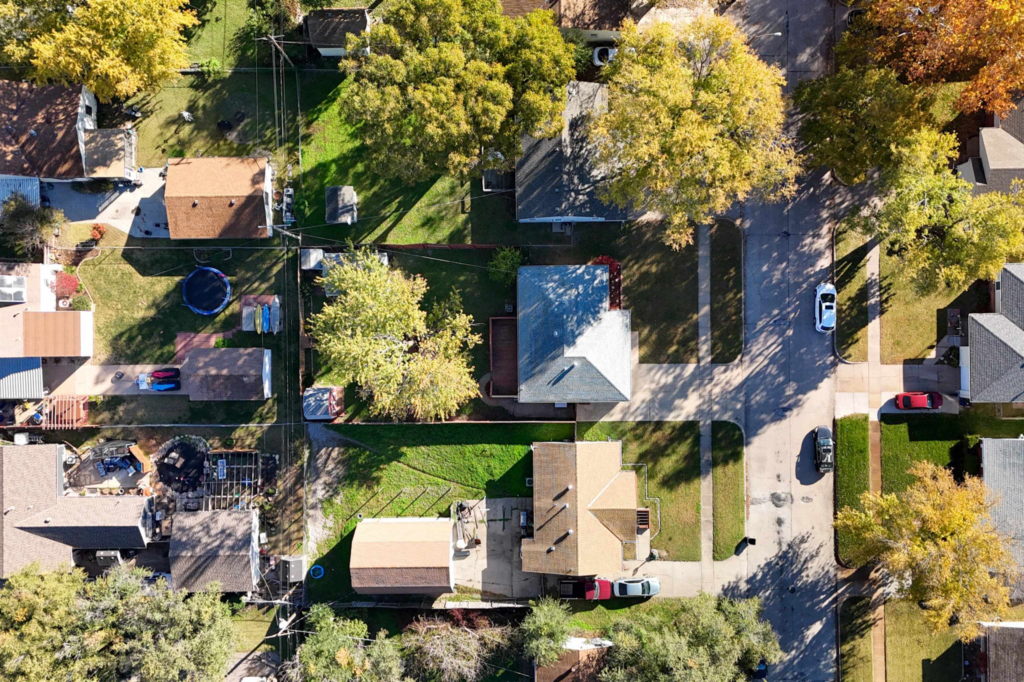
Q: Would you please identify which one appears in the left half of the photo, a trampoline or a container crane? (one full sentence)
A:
It is a trampoline that can be seen in the left half of the photo.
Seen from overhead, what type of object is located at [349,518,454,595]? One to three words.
building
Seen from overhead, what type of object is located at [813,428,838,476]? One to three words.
car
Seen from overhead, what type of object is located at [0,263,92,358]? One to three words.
house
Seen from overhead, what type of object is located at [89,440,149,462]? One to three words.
gazebo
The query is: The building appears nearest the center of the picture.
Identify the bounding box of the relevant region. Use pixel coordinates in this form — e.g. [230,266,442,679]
[517,264,632,403]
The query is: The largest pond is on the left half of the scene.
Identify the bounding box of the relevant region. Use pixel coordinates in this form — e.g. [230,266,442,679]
[147,430,211,509]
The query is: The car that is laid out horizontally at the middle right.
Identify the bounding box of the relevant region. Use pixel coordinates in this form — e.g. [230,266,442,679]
[895,390,943,413]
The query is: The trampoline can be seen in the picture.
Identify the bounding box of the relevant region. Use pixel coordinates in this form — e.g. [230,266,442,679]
[182,268,230,315]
